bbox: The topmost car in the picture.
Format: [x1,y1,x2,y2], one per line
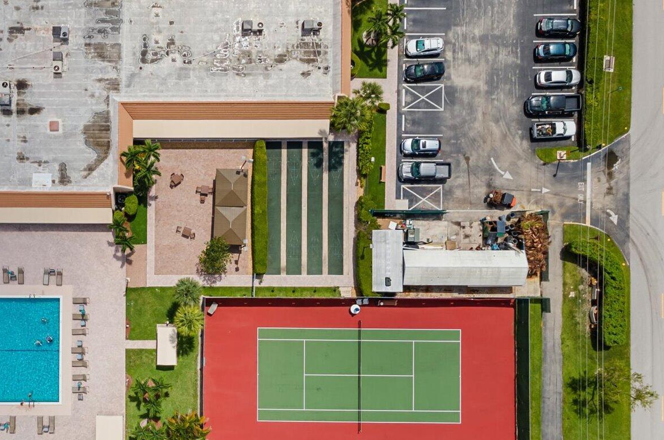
[534,17,578,39]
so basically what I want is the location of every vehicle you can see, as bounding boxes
[534,17,578,39]
[402,37,444,59]
[528,119,577,140]
[534,68,578,89]
[396,160,452,181]
[523,94,583,116]
[398,136,441,157]
[532,41,575,63]
[401,61,445,82]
